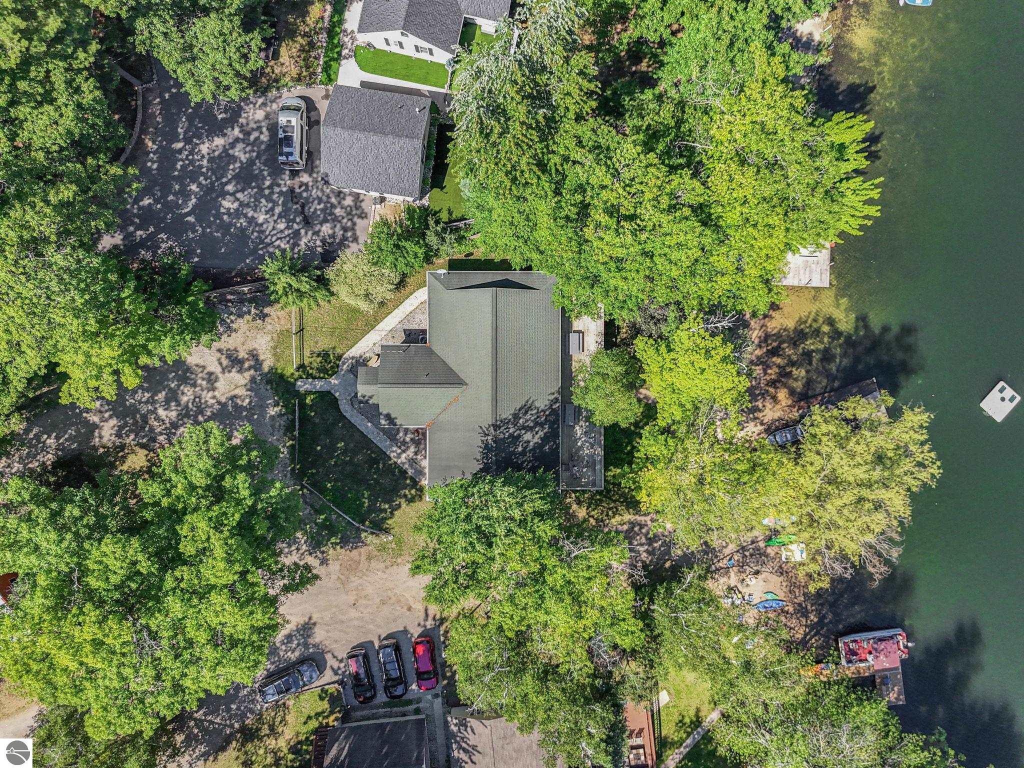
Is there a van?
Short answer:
Yes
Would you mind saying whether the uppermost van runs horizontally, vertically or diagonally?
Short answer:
vertically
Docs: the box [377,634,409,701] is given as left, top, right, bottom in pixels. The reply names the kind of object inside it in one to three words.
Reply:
car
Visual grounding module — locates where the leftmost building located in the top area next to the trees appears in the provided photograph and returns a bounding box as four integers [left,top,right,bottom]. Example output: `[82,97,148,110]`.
[319,83,434,206]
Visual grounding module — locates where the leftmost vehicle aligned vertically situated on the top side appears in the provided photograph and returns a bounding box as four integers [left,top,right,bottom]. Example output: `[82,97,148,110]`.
[278,98,311,173]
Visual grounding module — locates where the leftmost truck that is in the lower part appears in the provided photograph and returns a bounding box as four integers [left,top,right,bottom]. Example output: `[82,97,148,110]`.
[254,654,327,706]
